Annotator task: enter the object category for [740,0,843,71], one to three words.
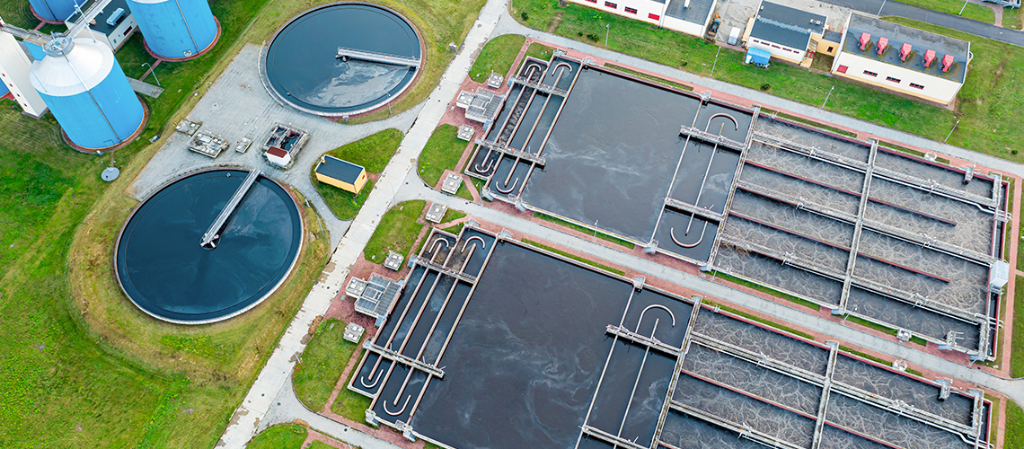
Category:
building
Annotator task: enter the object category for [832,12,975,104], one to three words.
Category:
building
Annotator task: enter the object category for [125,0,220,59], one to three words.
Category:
storage tank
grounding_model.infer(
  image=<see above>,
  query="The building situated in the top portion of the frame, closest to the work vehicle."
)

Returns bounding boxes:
[662,0,715,37]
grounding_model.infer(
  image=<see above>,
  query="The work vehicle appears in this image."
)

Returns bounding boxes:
[705,8,724,39]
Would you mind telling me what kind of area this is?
industrial area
